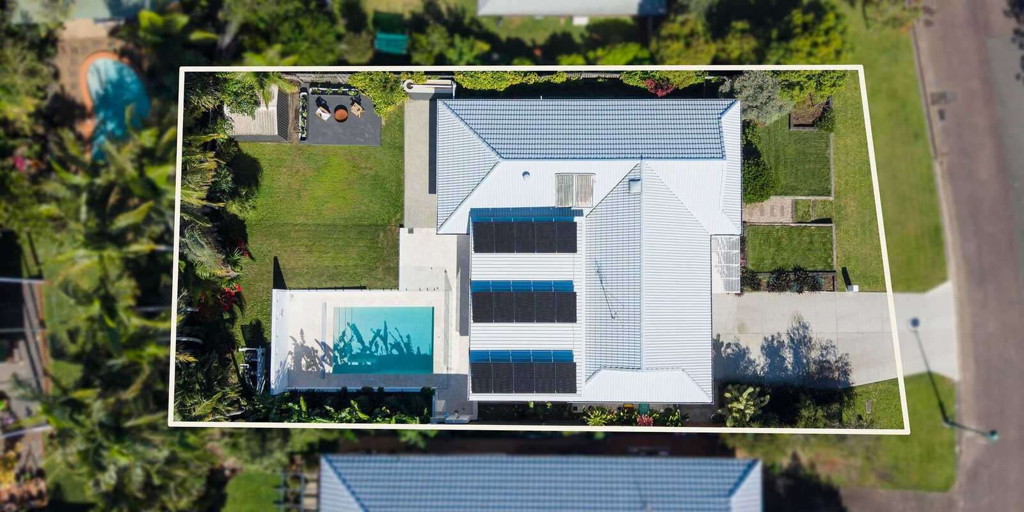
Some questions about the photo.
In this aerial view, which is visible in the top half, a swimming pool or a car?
swimming pool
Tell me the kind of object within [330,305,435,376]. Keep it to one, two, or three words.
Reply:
swimming pool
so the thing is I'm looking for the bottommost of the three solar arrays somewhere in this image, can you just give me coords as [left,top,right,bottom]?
[474,357,577,393]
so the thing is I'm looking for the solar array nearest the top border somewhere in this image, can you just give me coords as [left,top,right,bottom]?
[474,219,577,253]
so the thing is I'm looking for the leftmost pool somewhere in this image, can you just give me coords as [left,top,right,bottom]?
[77,51,152,167]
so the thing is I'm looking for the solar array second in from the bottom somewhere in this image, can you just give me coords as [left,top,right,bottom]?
[474,288,577,323]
